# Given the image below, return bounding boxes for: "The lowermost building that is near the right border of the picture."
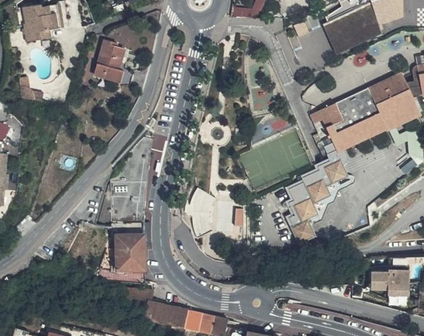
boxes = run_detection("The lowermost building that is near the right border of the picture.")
[371,270,410,306]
